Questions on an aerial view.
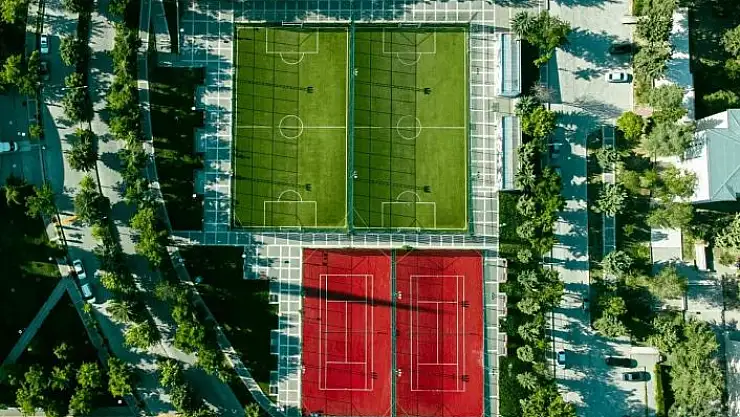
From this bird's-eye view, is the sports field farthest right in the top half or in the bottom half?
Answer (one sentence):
The top half of the photo is where the sports field farthest right is.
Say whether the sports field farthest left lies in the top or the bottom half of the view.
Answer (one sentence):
Seen from above, the sports field farthest left lies in the top half of the view.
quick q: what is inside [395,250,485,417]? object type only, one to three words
tennis court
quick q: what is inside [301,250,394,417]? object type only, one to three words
tennis court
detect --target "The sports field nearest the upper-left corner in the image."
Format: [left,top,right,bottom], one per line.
[233,23,351,231]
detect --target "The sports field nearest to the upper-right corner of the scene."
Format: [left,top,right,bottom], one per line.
[351,23,468,231]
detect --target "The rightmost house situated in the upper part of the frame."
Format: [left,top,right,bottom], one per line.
[684,108,740,207]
